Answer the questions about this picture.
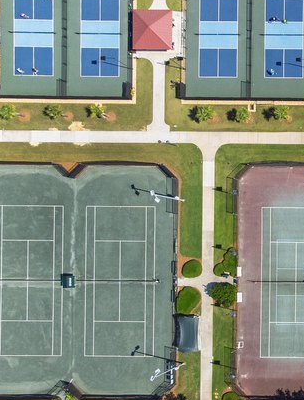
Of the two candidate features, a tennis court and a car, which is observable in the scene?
tennis court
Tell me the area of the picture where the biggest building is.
top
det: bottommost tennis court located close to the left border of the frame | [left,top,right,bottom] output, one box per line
[0,165,79,395]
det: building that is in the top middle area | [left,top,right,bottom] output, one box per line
[132,9,177,54]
